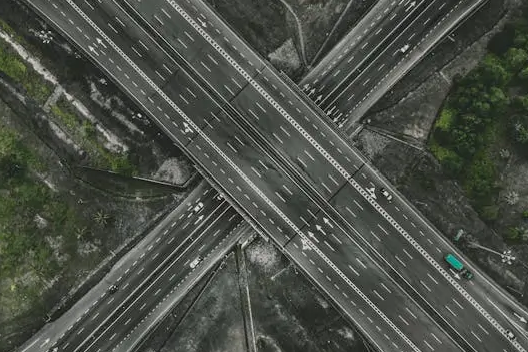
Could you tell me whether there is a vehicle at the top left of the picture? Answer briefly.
No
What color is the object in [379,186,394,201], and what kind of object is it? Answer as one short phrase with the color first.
white car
